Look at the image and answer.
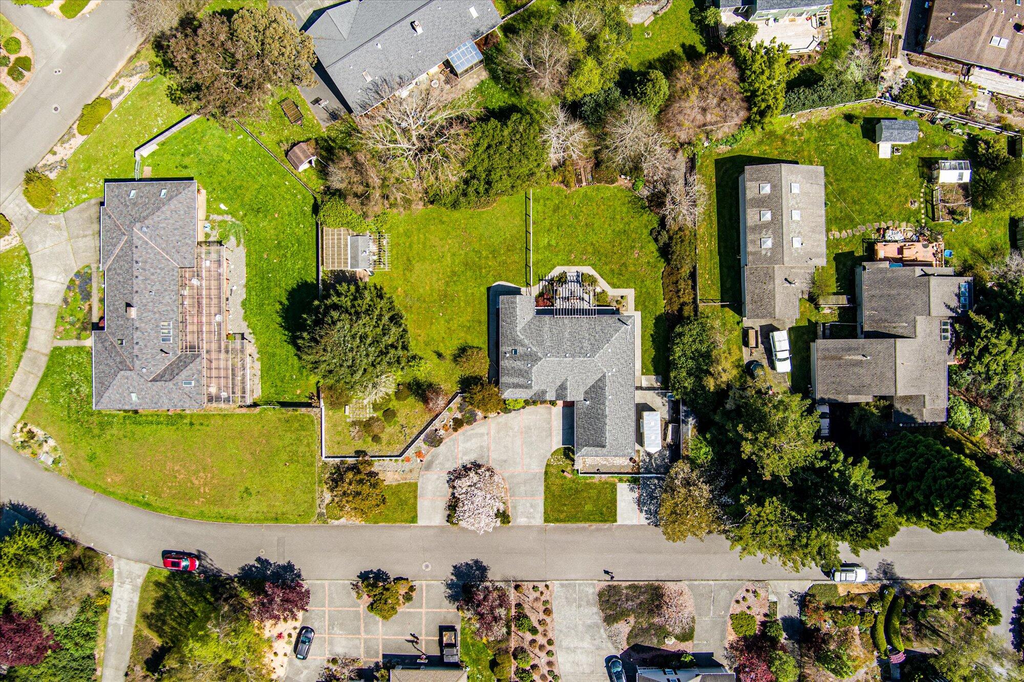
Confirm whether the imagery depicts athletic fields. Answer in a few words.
No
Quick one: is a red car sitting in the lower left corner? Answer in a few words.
Yes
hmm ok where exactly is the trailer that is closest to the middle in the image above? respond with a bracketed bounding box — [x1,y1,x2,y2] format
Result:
[640,410,663,458]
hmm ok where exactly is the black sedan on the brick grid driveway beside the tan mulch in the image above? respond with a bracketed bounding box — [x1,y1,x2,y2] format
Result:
[295,624,315,661]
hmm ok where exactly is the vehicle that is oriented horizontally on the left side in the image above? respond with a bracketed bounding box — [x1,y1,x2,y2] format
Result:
[162,552,201,571]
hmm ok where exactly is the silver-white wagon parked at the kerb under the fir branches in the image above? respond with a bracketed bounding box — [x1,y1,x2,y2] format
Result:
[828,565,864,583]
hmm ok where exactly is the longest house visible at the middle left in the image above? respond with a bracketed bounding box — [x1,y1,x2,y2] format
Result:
[92,178,210,409]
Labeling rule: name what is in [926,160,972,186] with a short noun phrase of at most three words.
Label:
greenhouse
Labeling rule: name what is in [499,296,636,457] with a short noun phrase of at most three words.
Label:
house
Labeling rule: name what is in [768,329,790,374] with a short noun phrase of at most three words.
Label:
truck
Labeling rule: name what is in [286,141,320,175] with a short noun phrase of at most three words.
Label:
shed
